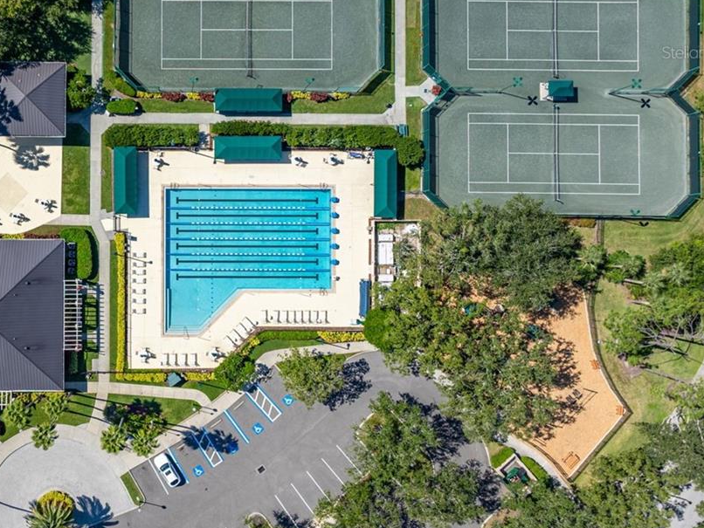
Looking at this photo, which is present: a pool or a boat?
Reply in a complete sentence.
Of the two, only a pool appears.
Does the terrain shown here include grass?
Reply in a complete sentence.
Yes, there is grass in the image.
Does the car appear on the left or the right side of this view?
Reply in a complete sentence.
It is on the left.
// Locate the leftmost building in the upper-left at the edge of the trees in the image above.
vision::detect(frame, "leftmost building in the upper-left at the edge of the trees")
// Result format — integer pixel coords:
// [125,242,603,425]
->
[0,61,68,137]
